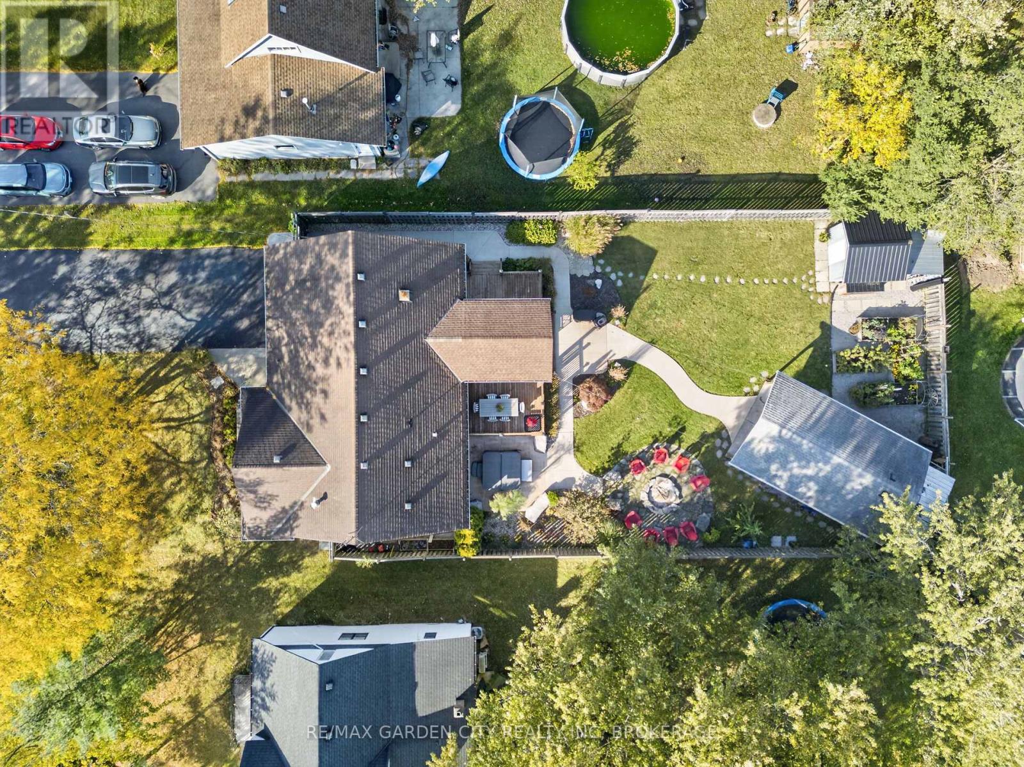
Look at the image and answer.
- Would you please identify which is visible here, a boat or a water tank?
boat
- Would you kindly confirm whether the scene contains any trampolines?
Yes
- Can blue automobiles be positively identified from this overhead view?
Yes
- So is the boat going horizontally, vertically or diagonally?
diagonally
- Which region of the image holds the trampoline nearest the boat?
top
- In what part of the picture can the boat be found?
top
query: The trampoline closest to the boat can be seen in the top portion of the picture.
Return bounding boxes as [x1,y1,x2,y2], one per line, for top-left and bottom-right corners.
[497,83,587,182]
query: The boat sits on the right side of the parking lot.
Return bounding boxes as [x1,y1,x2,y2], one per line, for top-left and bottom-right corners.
[416,150,450,187]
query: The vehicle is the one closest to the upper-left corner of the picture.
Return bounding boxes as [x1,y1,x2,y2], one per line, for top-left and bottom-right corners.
[0,110,65,152]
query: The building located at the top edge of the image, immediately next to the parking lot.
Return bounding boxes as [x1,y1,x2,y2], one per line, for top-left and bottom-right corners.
[175,0,389,160]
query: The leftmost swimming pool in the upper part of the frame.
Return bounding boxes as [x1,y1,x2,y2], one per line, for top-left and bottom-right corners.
[559,0,680,87]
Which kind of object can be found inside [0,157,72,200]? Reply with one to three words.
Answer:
car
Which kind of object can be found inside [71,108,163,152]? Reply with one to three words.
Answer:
car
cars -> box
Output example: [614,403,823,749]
[71,108,163,152]
[88,157,179,201]
[0,157,72,200]
[0,110,65,152]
